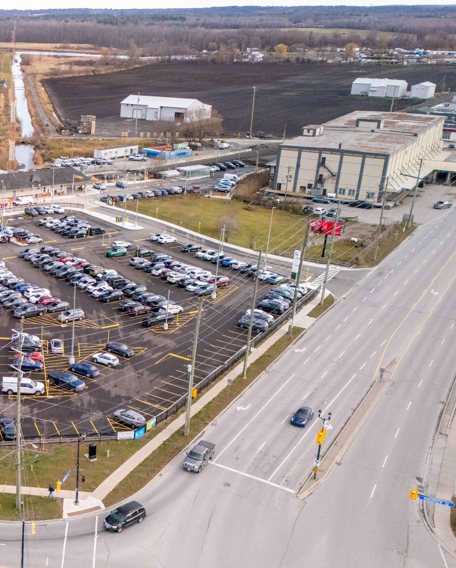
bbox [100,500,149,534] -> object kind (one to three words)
car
